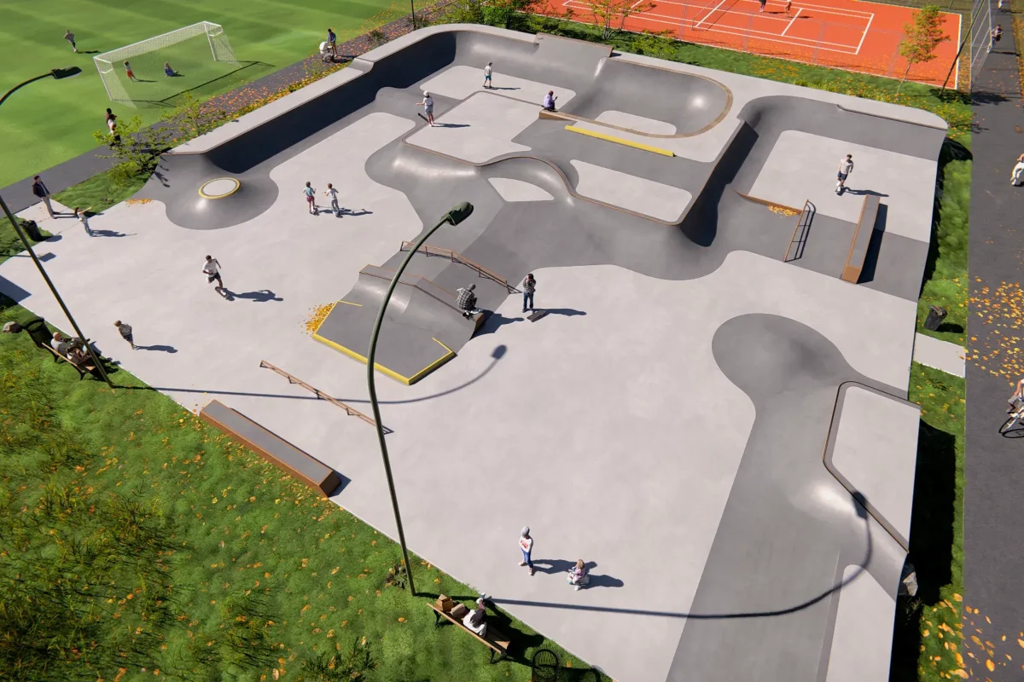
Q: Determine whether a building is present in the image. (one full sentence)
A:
No, the picture doesn't show any building.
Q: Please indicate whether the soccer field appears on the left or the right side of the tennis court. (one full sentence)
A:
From the viewer's perspective, the soccer field falls to the left of the tennis court.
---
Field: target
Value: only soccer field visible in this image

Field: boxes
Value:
[0,0,424,185]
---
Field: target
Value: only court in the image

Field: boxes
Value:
[449,0,962,89]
